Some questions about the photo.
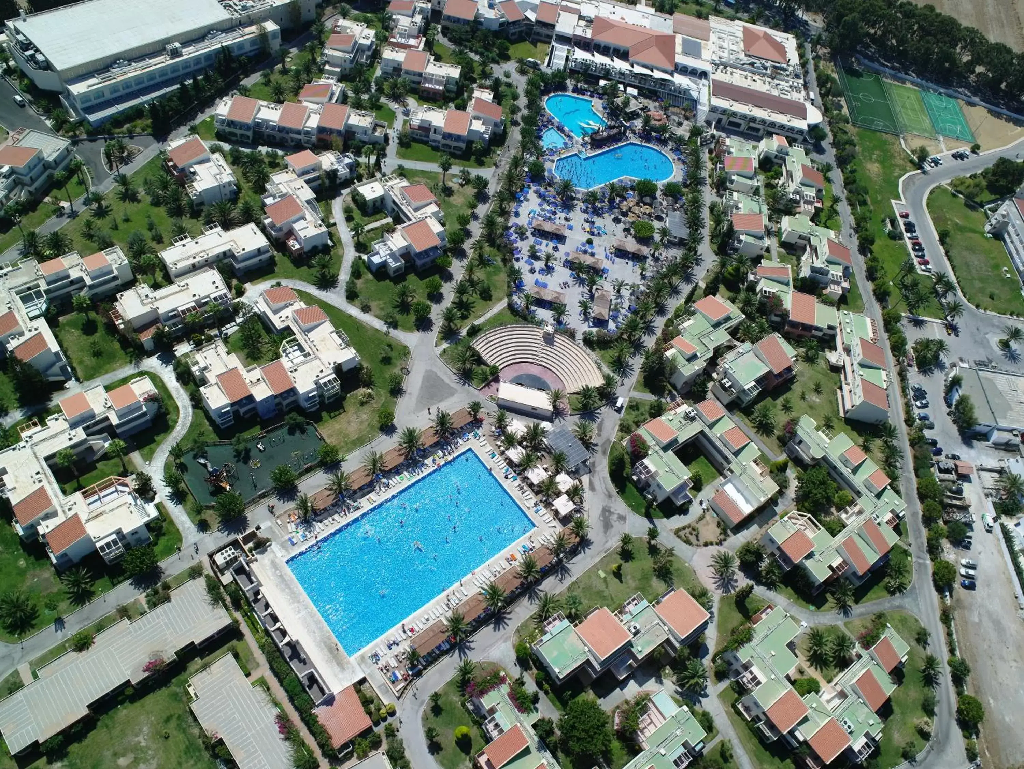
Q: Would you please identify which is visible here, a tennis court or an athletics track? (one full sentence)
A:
There is a tennis court in the scene.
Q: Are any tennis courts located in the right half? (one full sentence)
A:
Yes, you'll find a tennis court in the right half.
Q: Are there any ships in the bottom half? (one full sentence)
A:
No, in the bottom half there is no ship.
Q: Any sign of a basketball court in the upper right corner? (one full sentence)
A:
Yes, the scene does show a basketball court in the upper right corner.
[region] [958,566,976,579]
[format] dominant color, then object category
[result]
white vehicle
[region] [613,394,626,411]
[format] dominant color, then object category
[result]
white vehicle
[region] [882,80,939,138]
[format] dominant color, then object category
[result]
green tennis court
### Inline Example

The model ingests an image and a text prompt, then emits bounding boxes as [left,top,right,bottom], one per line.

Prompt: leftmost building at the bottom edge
[0,574,234,759]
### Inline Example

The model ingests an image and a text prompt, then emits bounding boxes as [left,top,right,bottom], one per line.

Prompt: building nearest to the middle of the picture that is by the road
[496,380,555,418]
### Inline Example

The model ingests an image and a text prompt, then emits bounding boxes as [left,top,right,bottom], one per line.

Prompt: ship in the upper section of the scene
[592,114,624,139]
